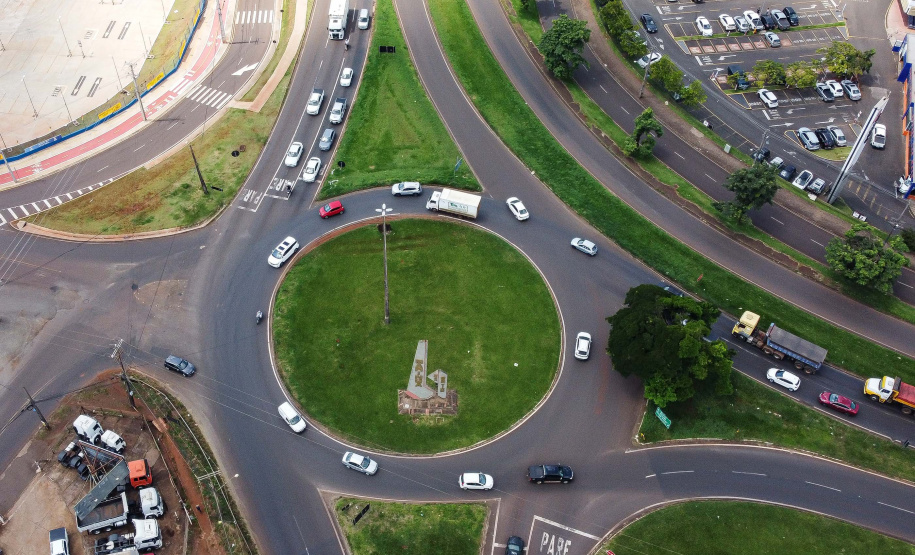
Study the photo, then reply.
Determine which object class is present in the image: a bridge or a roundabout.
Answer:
roundabout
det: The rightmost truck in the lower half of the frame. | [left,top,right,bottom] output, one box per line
[860,374,915,415]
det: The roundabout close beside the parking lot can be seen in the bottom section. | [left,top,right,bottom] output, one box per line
[197,181,631,517]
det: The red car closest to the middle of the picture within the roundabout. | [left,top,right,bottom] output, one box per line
[318,200,345,218]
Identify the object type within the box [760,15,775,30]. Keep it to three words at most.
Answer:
car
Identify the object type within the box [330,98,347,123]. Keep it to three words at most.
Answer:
vehicle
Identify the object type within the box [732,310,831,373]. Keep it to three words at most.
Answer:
truck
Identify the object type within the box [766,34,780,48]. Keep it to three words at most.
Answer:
car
